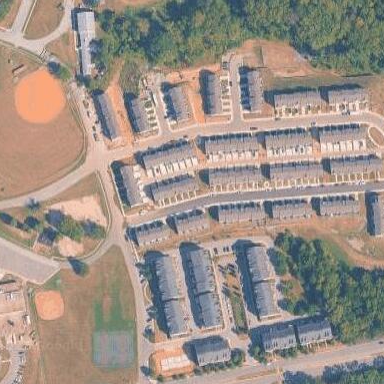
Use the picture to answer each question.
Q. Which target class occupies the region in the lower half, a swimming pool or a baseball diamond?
baseball diamond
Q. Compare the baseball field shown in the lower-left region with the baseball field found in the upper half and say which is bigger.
the baseball field found in the upper half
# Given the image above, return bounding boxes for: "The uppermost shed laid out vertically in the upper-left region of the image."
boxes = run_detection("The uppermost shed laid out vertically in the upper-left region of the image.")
[77,11,95,75]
